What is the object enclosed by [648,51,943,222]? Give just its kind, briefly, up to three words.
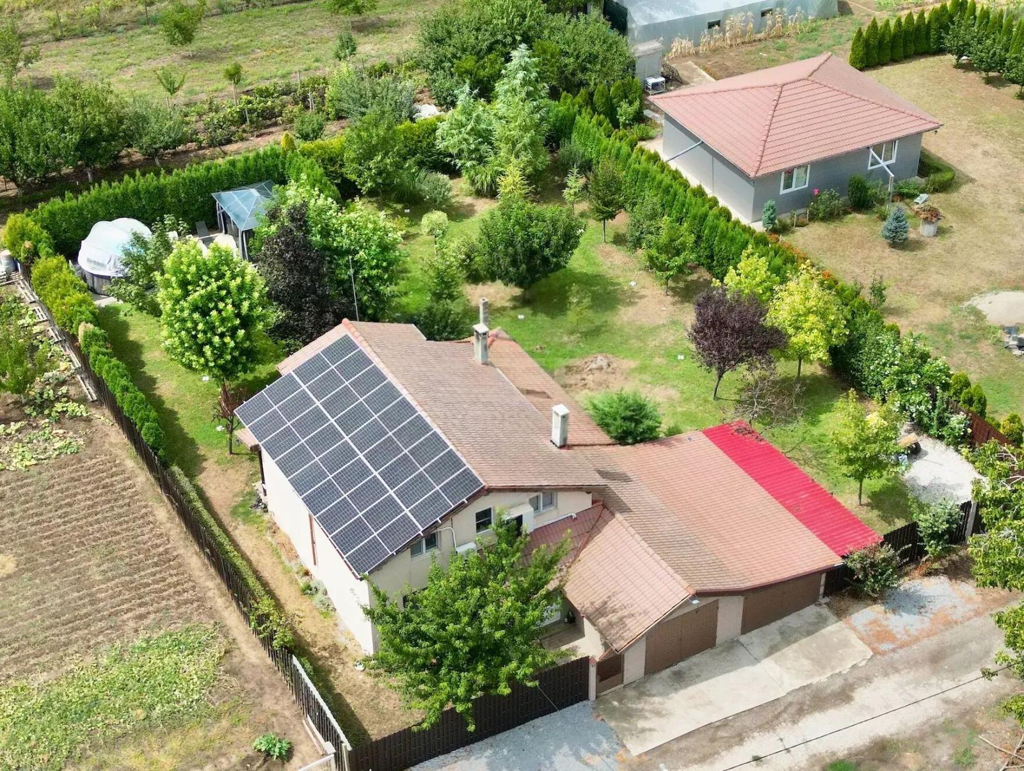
house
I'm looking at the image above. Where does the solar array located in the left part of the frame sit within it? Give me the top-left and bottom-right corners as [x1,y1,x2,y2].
[236,334,484,576]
